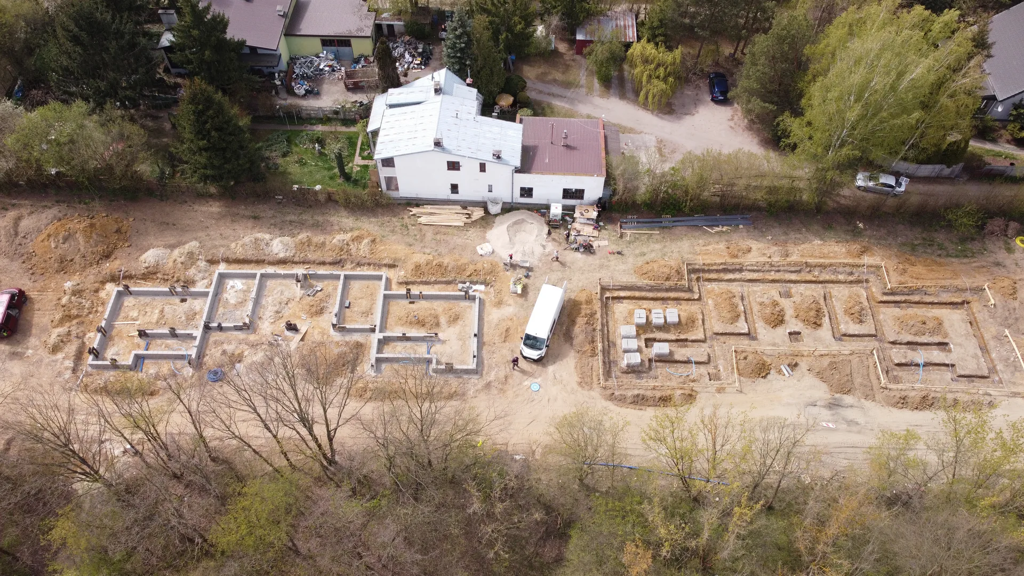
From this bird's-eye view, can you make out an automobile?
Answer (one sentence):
Yes, the image includes an automobile.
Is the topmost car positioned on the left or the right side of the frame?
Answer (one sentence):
It is on the right.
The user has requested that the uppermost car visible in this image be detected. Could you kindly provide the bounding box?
[703,70,729,105]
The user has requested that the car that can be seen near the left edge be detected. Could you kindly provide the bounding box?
[0,289,28,342]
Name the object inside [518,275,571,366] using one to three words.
van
